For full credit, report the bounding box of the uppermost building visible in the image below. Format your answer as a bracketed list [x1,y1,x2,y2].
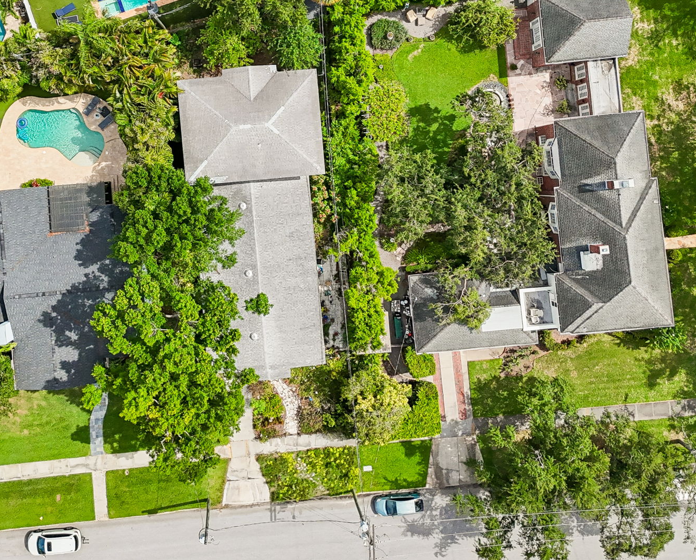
[525,0,634,65]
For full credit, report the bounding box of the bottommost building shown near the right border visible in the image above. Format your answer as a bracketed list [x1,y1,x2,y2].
[530,110,675,335]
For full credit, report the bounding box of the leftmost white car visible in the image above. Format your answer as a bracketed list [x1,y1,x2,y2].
[24,526,84,560]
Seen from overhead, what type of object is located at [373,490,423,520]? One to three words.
car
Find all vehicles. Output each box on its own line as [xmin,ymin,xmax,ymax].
[373,490,423,520]
[24,526,84,560]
